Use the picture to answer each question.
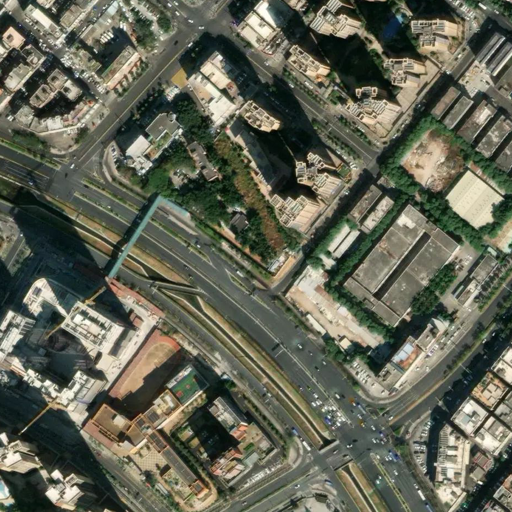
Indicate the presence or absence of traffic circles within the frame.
No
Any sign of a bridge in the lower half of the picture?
Yes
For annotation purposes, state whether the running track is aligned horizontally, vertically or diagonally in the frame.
diagonally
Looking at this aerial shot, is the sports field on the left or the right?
left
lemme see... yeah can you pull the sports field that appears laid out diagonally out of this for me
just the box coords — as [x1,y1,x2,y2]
[119,342,176,402]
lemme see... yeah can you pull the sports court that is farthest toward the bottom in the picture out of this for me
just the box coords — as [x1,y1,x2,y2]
[168,365,212,405]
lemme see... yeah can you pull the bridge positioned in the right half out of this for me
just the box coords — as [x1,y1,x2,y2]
[317,440,354,472]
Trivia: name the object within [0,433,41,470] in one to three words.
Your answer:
building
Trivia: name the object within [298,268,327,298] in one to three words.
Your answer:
shed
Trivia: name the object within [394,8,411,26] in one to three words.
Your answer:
swimming pool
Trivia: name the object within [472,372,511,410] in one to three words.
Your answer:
building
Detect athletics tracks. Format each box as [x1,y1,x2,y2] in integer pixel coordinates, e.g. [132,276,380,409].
[108,328,180,405]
